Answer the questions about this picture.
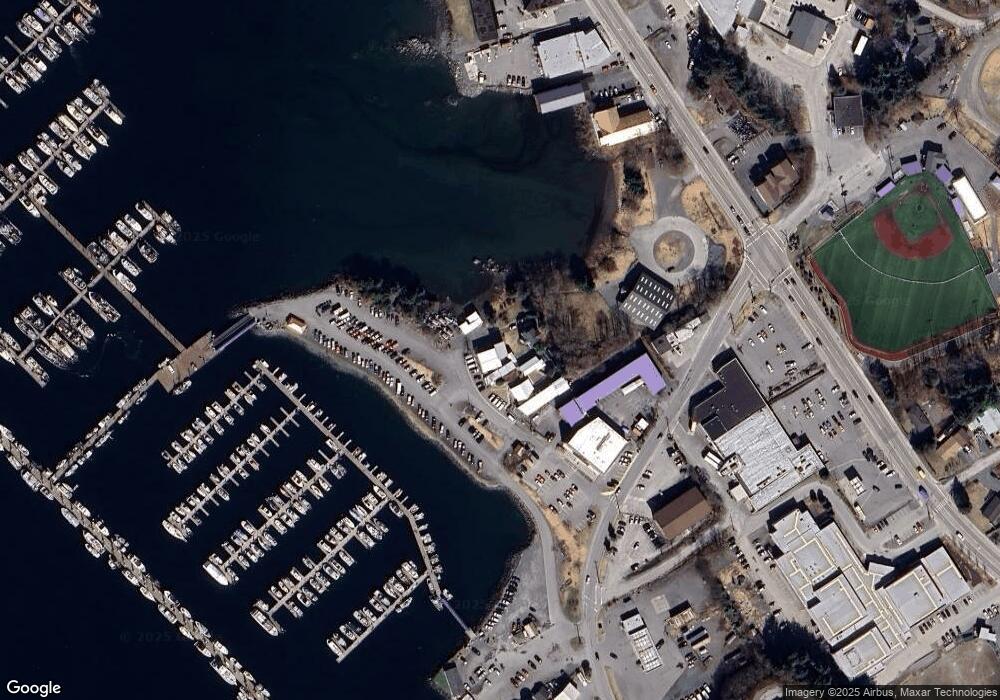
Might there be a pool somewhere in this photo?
No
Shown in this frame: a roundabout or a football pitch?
roundabout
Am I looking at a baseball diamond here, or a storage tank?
baseball diamond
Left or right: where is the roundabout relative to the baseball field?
left of it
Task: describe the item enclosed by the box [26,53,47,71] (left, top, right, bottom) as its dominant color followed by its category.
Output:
white boat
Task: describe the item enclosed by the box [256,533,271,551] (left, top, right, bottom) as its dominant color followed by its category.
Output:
gray boat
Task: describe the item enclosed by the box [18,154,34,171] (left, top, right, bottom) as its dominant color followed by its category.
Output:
gray boat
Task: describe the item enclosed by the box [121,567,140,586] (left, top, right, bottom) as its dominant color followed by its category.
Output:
white boat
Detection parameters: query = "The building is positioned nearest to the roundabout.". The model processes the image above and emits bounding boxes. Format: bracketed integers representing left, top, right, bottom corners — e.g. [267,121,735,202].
[619,273,675,330]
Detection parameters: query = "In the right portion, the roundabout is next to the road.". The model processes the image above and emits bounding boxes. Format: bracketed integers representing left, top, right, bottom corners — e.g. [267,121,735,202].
[632,216,709,278]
